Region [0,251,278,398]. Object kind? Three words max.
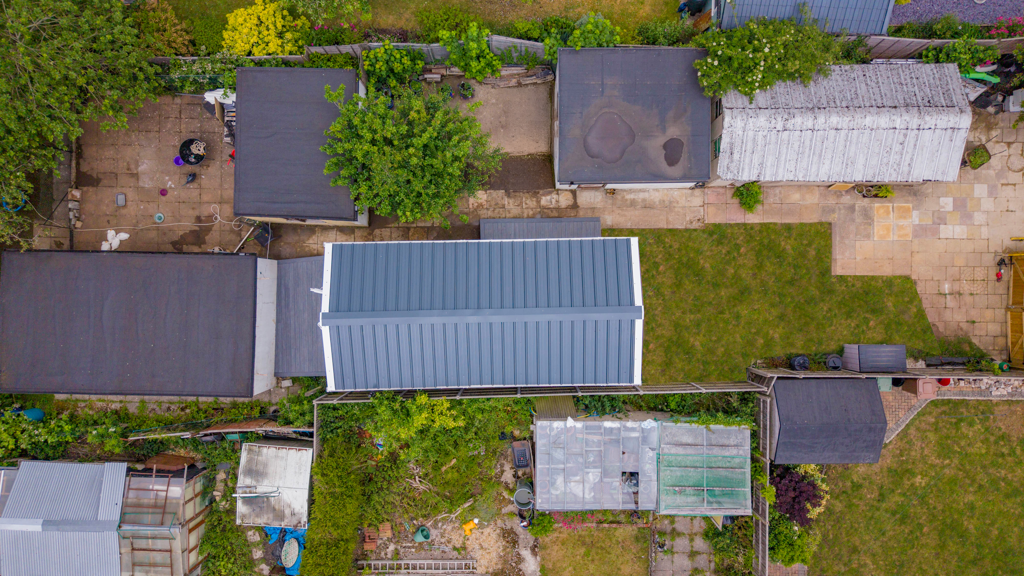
shed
